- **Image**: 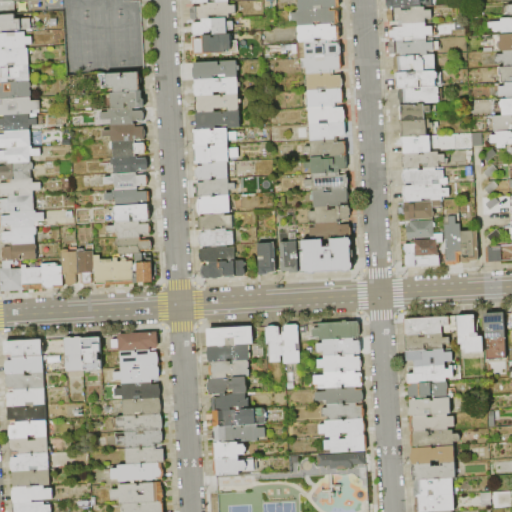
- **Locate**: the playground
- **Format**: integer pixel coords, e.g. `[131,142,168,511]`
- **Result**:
[312,473,368,512]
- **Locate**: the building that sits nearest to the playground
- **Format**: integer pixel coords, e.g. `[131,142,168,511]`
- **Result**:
[317,452,366,470]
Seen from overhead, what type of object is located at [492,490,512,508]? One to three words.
shed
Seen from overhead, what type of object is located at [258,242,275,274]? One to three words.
building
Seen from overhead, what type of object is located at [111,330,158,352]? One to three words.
building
